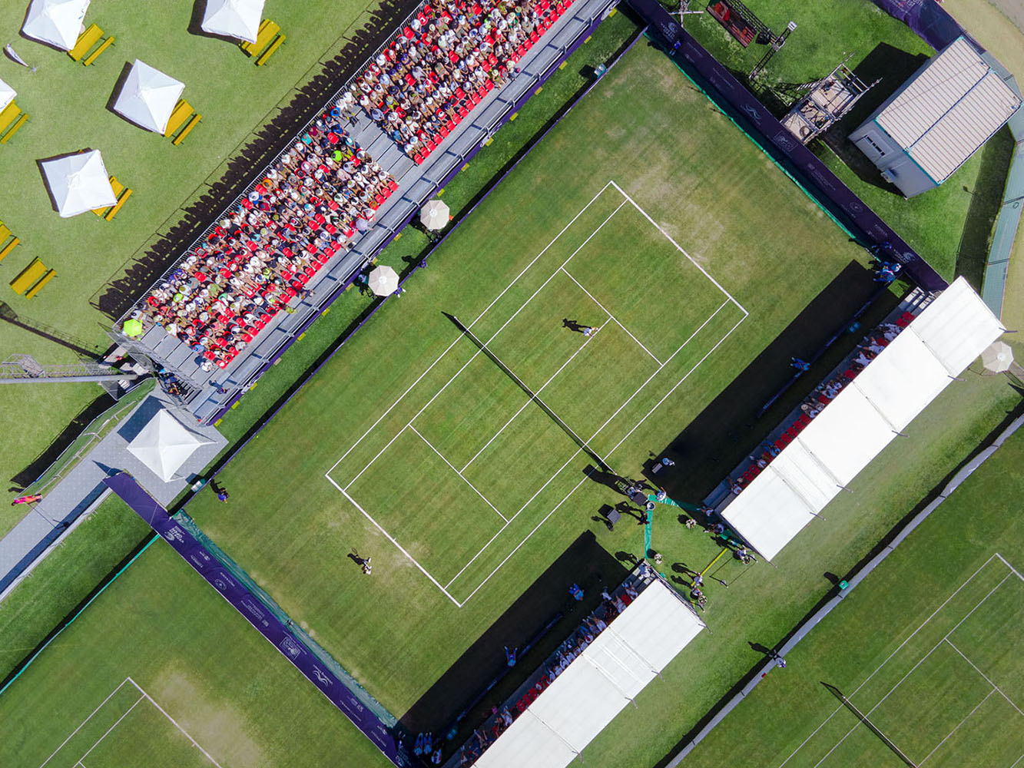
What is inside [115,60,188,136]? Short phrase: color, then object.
white umbrella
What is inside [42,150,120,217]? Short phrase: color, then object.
white umbrella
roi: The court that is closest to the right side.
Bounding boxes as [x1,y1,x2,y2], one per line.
[679,416,1024,768]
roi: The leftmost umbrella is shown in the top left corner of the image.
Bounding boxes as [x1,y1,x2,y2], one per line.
[0,76,20,118]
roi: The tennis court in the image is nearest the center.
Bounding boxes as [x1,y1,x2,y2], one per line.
[177,25,903,757]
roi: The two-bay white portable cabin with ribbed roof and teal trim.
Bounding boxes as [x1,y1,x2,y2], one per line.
[850,35,1024,197]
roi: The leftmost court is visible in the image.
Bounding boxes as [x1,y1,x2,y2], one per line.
[0,535,396,768]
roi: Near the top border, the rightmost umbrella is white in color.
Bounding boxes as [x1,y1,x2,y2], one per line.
[203,0,272,45]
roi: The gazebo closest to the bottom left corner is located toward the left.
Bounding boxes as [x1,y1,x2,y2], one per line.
[127,407,218,485]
